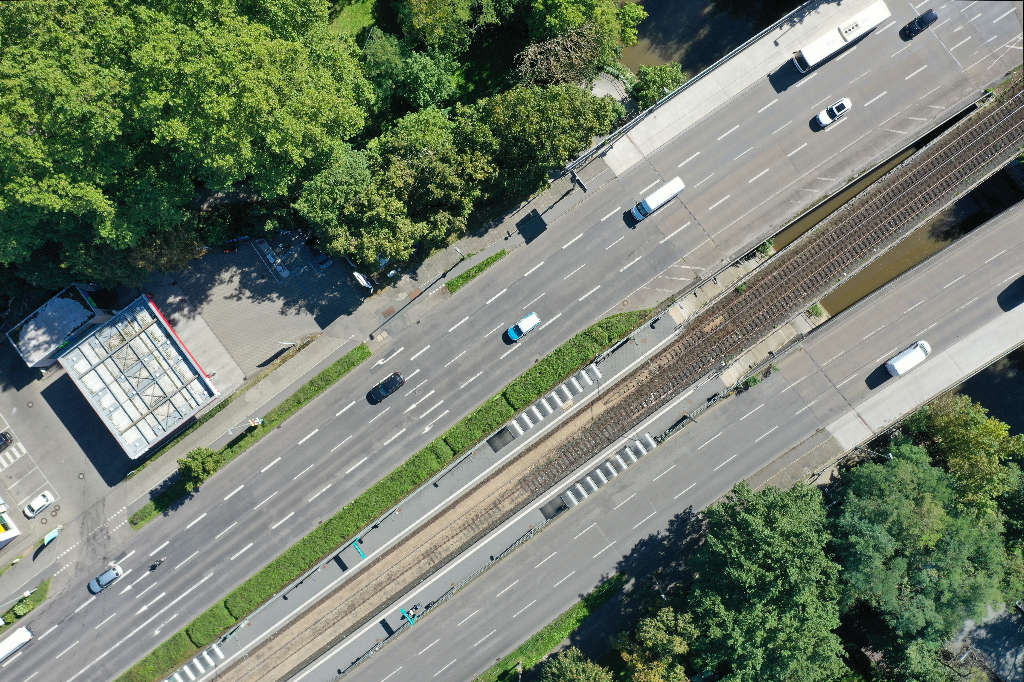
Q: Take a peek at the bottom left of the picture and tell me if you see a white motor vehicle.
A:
Yes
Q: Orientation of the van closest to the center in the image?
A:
at an angle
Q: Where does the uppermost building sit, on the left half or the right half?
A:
left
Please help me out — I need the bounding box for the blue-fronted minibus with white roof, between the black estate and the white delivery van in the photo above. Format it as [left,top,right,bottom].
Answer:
[505,310,543,342]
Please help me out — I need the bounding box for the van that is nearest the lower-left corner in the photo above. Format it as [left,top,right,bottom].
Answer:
[0,628,32,665]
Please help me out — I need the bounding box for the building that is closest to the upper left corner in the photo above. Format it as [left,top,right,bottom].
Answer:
[6,283,125,367]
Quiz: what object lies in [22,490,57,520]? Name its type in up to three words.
car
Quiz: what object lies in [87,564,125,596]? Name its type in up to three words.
car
